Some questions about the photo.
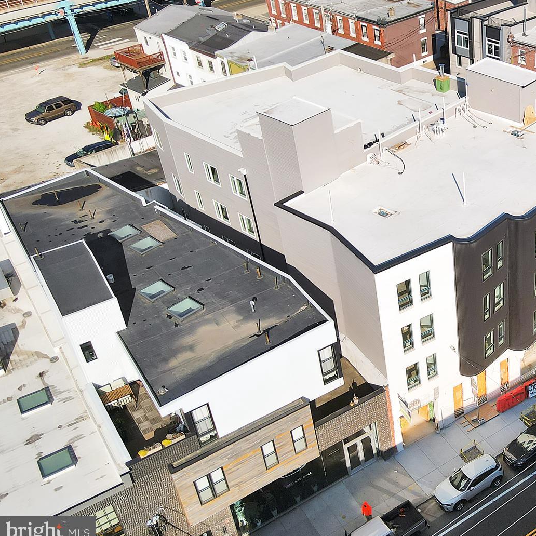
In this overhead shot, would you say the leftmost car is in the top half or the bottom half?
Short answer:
top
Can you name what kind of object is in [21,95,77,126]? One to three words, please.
car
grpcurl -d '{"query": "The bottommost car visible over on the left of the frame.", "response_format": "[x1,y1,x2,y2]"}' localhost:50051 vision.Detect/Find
[60,134,118,168]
